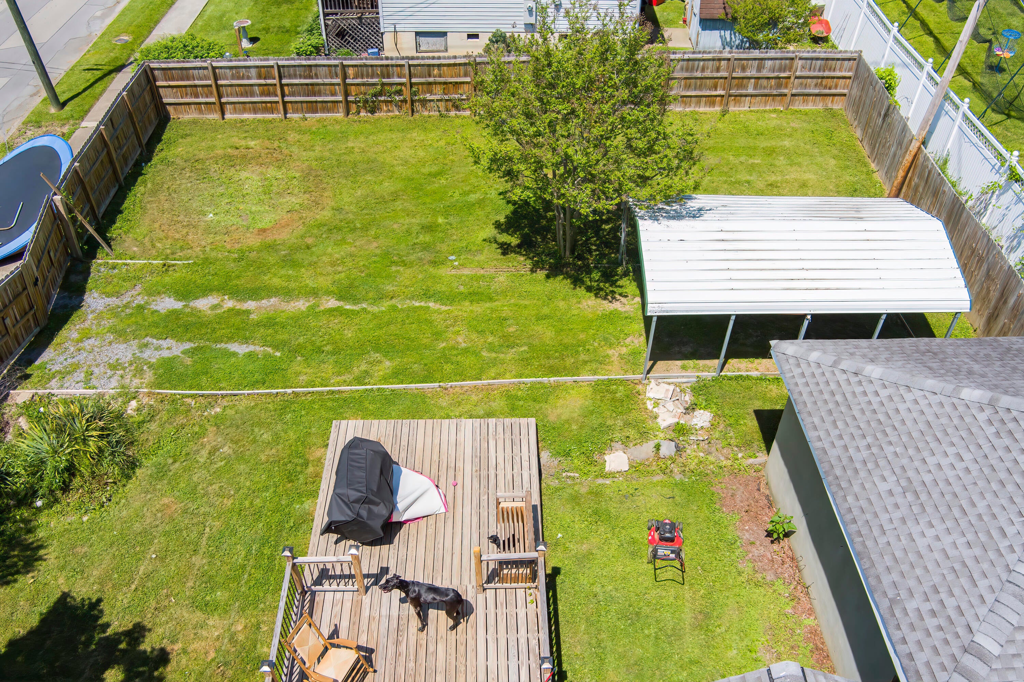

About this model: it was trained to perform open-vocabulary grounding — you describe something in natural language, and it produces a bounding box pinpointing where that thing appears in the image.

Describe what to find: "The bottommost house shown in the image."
[768,336,1024,682]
